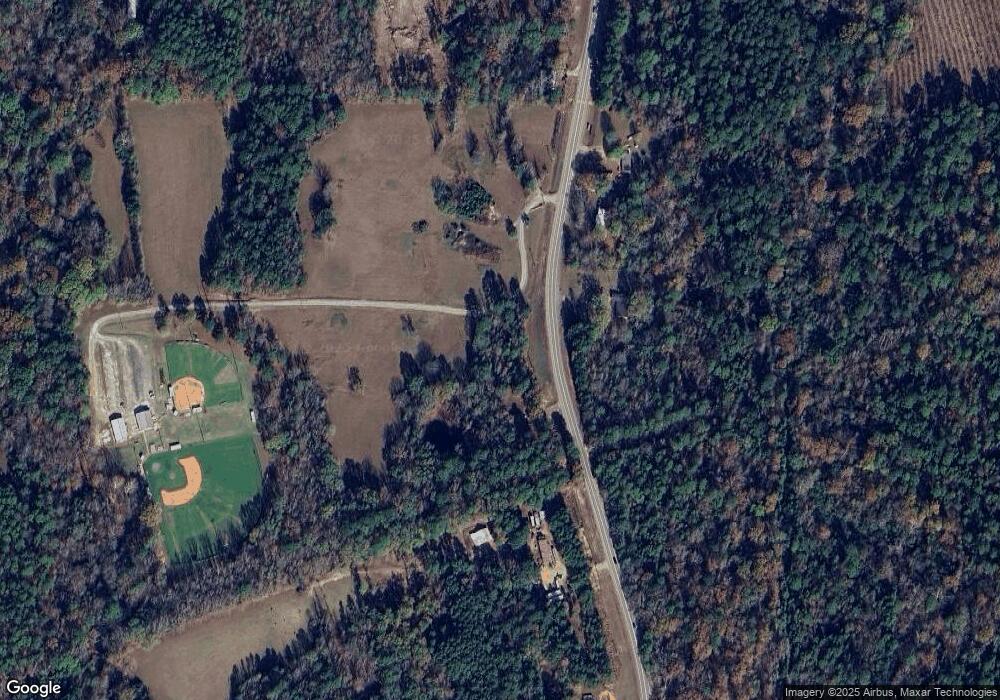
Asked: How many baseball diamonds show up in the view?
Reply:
2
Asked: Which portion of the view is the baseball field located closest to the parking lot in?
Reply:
left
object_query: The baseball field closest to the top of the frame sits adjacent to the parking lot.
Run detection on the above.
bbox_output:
[165,344,243,413]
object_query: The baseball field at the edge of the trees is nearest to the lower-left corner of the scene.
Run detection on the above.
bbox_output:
[146,436,265,561]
